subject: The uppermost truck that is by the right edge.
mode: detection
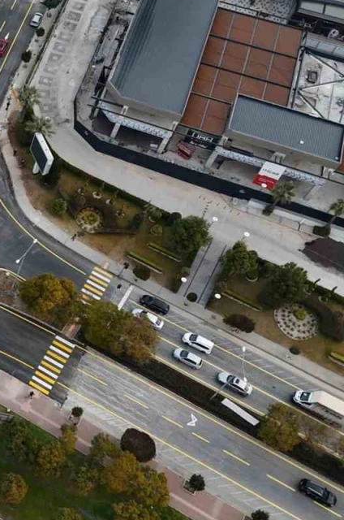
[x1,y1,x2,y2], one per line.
[294,375,344,424]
